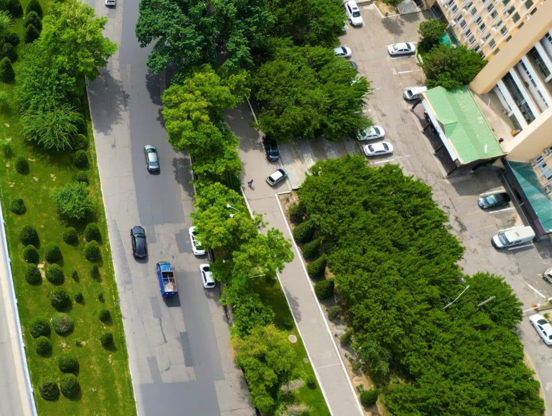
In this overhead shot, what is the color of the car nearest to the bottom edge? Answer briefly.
white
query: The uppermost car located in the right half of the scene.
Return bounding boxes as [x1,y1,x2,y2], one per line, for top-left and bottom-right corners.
[343,1,363,26]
